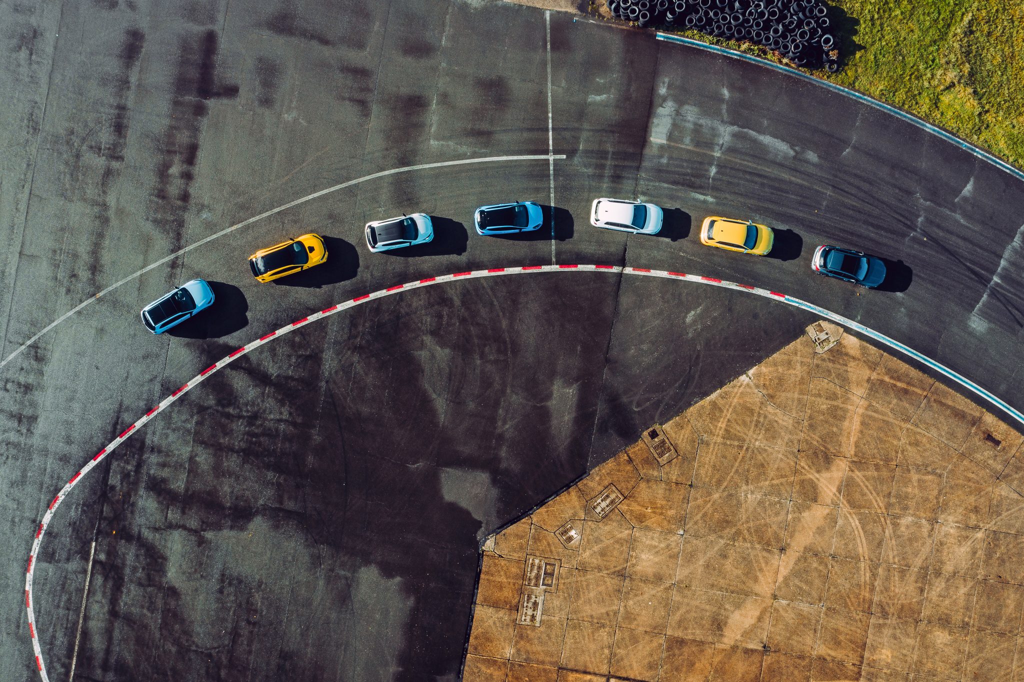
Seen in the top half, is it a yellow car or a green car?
yellow car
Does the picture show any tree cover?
No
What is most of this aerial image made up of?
paved ground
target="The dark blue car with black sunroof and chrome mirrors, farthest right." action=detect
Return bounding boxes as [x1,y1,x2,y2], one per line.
[810,245,886,288]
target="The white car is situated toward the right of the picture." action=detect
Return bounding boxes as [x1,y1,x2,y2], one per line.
[590,198,663,236]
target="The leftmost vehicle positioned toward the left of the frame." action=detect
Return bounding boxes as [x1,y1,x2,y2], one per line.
[141,278,216,334]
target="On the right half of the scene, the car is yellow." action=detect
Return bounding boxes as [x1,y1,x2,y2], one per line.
[699,216,773,256]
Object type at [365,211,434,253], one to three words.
car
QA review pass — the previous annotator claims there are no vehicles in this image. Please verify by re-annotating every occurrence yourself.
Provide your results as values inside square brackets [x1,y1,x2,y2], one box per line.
[699,216,773,256]
[365,211,434,253]
[249,234,328,283]
[474,198,543,237]
[810,245,886,288]
[590,198,663,236]
[141,278,216,334]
